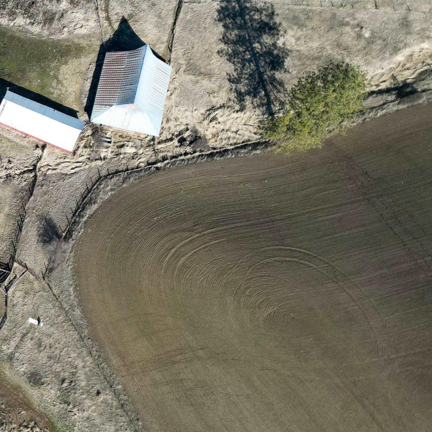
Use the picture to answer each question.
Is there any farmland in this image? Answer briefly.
Yes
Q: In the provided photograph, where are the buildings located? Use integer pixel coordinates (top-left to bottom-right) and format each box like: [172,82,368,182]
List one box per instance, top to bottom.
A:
[90,44,171,137]
[0,90,86,155]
